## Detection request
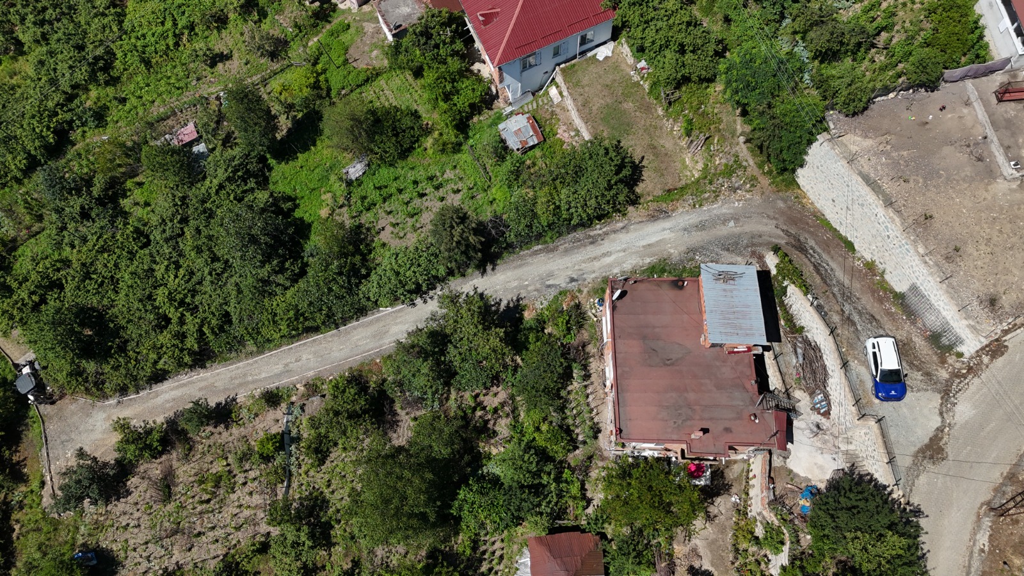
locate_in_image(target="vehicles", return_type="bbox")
[863,334,912,404]
[14,357,78,422]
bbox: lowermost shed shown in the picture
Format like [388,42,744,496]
[528,532,604,576]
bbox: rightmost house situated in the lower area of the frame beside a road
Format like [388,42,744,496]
[604,264,788,464]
